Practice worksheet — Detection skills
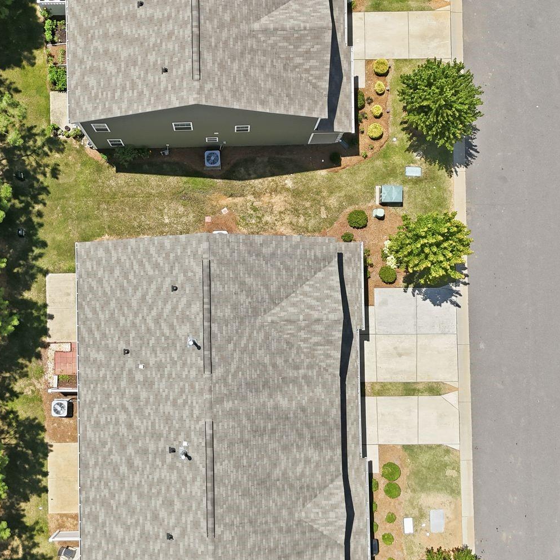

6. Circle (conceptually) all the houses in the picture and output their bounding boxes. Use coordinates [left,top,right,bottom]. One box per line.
[66,0,356,148]
[74,233,371,560]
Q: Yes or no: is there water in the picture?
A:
No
